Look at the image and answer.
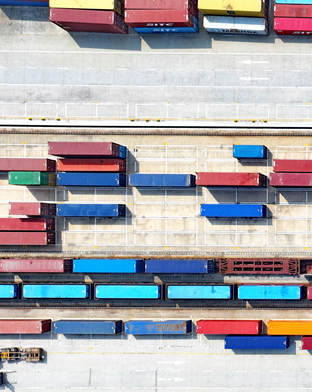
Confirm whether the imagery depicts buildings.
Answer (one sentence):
No, no building is visible in the scene.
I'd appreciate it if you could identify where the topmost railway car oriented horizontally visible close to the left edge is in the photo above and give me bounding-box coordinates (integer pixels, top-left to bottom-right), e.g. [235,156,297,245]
[5,258,74,273]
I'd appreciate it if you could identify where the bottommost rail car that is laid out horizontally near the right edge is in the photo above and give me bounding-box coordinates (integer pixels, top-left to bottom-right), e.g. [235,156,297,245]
[237,284,308,299]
